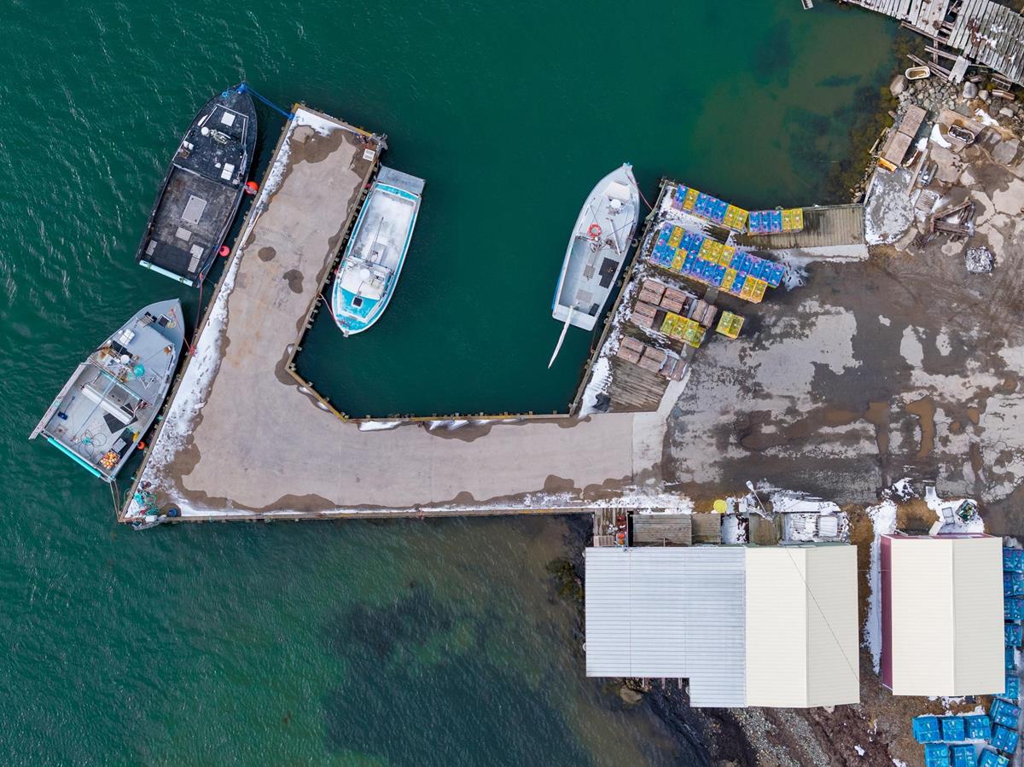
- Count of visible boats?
four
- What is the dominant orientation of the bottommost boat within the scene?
at an angle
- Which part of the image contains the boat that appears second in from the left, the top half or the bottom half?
top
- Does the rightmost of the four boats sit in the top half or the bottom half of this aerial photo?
top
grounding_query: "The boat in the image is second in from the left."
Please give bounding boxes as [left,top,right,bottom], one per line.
[138,82,256,287]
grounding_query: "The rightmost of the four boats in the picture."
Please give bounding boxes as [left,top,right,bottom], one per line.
[548,162,641,368]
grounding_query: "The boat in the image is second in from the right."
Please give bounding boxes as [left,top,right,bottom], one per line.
[332,165,426,337]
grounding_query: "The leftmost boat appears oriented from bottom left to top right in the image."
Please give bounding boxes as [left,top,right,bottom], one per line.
[28,298,185,484]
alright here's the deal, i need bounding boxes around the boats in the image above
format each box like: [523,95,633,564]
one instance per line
[138,82,256,287]
[548,162,641,368]
[332,165,426,337]
[28,298,185,484]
